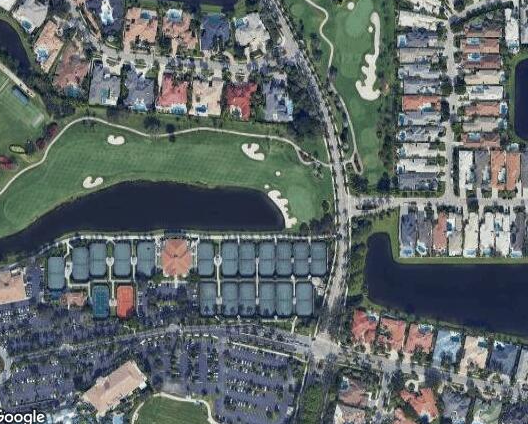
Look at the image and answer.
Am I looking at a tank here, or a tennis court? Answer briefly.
tennis court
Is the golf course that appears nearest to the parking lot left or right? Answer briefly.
left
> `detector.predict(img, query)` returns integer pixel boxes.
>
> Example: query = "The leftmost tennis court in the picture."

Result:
[47,255,65,290]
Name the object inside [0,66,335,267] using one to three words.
golf course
